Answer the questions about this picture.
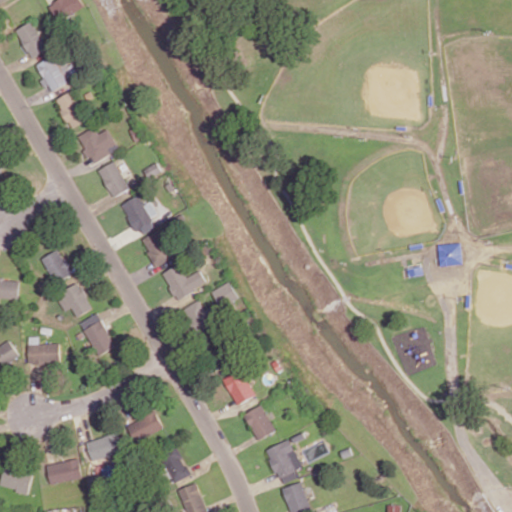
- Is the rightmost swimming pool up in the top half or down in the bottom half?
bottom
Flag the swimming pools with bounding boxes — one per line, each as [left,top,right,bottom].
[262,372,278,387]
[303,440,330,462]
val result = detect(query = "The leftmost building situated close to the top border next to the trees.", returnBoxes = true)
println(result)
[15,23,46,58]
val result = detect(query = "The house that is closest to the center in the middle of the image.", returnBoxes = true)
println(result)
[212,282,242,304]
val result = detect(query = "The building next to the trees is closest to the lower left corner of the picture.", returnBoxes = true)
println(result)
[2,472,36,494]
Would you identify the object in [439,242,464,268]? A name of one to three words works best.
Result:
building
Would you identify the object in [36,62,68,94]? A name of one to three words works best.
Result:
house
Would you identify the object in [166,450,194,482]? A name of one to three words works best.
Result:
house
